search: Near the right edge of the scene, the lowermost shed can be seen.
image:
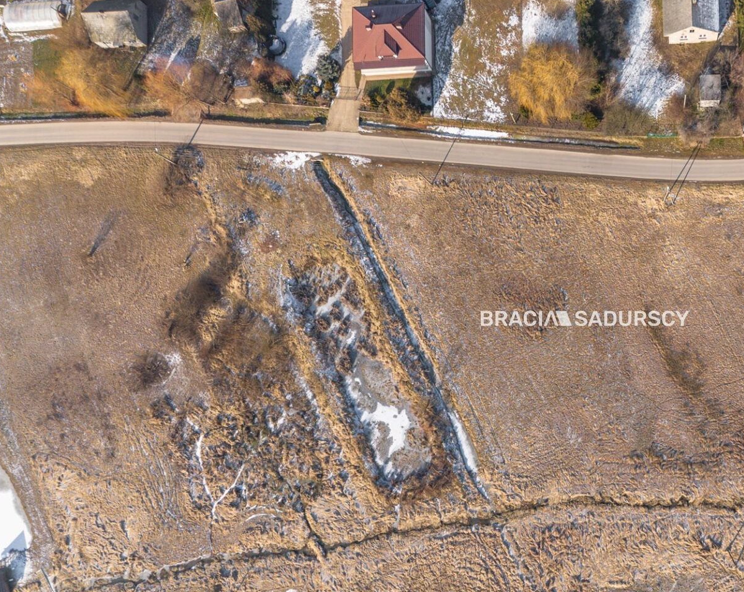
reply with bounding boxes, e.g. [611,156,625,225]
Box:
[698,74,722,111]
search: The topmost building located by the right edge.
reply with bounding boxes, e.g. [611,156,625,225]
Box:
[663,0,726,45]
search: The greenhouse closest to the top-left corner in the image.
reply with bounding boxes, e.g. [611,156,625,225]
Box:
[0,1,67,30]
